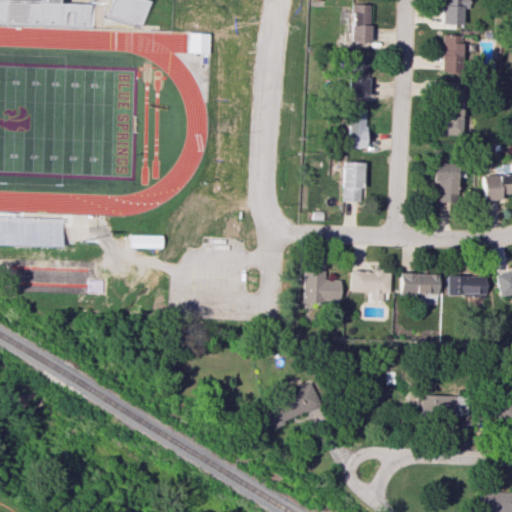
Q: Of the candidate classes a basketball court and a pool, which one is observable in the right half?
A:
pool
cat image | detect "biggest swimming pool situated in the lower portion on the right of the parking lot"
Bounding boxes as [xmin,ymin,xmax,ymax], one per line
[360,301,389,320]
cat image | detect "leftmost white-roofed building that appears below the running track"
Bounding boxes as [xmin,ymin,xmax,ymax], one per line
[128,235,165,250]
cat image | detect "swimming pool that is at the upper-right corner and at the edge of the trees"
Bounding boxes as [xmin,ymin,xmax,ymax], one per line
[478,38,497,64]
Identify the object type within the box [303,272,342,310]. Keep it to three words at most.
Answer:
house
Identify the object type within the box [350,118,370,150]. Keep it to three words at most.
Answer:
house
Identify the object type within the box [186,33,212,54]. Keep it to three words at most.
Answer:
shed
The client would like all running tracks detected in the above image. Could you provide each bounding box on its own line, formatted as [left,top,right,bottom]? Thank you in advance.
[0,28,208,216]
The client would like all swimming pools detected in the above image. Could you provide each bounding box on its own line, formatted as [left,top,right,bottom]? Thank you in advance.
[478,38,497,64]
[360,301,389,320]
[275,358,286,368]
